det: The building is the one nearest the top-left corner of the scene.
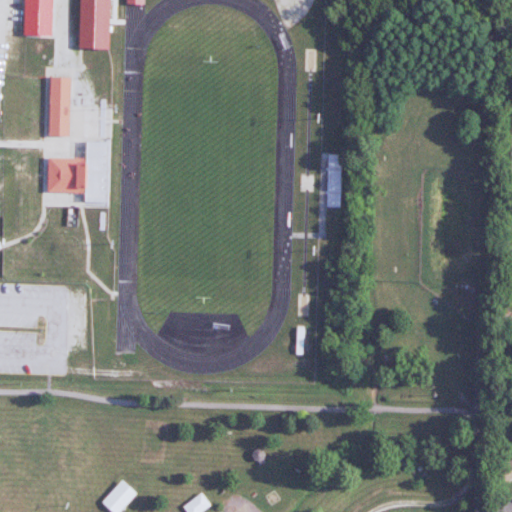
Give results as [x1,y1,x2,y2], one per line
[23,0,52,36]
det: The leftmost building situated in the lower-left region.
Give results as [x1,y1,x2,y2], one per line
[102,480,138,512]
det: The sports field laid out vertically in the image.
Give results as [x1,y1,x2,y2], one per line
[138,4,278,340]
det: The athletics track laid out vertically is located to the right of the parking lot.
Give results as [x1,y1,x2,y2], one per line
[116,0,296,373]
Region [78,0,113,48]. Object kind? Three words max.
building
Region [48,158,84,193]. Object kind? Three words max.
building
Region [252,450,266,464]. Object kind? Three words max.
gazebo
